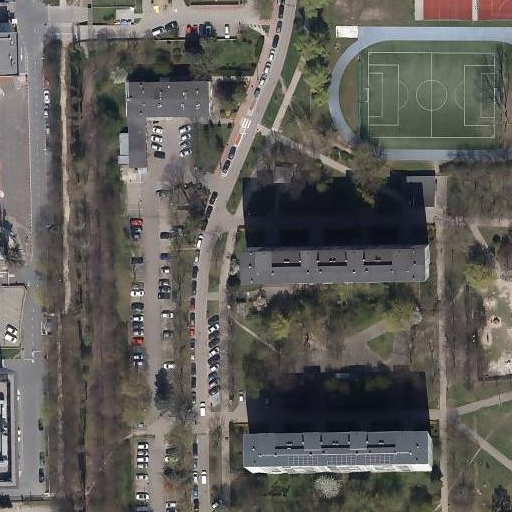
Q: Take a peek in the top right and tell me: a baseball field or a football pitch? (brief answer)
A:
football pitch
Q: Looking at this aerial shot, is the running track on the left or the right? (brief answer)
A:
right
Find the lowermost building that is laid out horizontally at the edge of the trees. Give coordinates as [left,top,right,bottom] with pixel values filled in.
[244,431,431,472]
